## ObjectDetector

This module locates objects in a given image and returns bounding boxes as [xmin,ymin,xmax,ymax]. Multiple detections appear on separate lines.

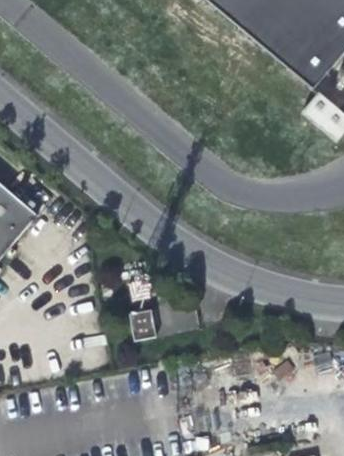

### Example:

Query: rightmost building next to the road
[302,92,344,144]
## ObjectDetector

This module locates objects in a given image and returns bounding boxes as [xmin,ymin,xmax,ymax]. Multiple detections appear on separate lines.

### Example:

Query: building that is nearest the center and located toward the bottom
[130,308,158,344]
